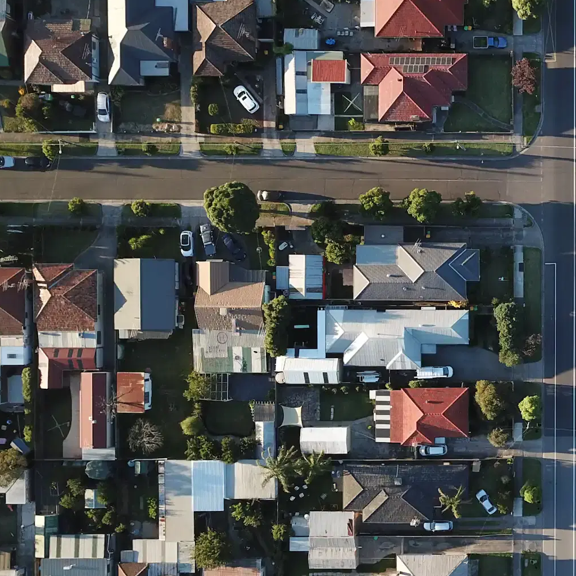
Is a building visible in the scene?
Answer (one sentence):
Yes, I can see a building in this picture.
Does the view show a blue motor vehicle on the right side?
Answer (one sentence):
Yes, I can see a blue motor vehicle on the right side.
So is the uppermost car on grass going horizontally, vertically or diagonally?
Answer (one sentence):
The uppermost car on grass runs diagonally in the image.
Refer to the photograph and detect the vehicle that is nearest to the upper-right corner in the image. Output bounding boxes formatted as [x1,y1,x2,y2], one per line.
[473,34,507,50]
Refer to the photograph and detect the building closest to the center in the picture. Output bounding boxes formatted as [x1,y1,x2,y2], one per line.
[276,254,329,300]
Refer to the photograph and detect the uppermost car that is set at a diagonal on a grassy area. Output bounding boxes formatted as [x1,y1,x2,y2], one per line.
[234,85,261,115]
